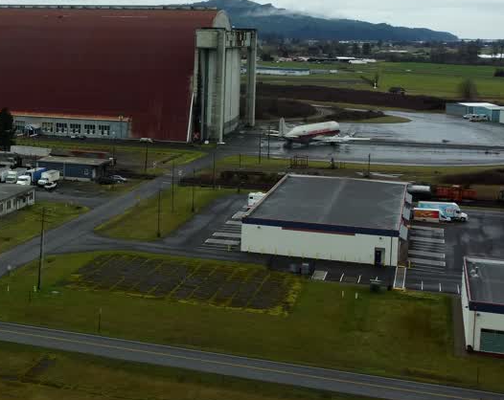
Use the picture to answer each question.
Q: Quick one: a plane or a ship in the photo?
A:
plane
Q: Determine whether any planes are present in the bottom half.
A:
No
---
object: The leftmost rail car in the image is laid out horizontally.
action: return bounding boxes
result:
[408,184,449,201]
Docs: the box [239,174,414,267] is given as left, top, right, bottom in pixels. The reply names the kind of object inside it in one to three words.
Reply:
building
